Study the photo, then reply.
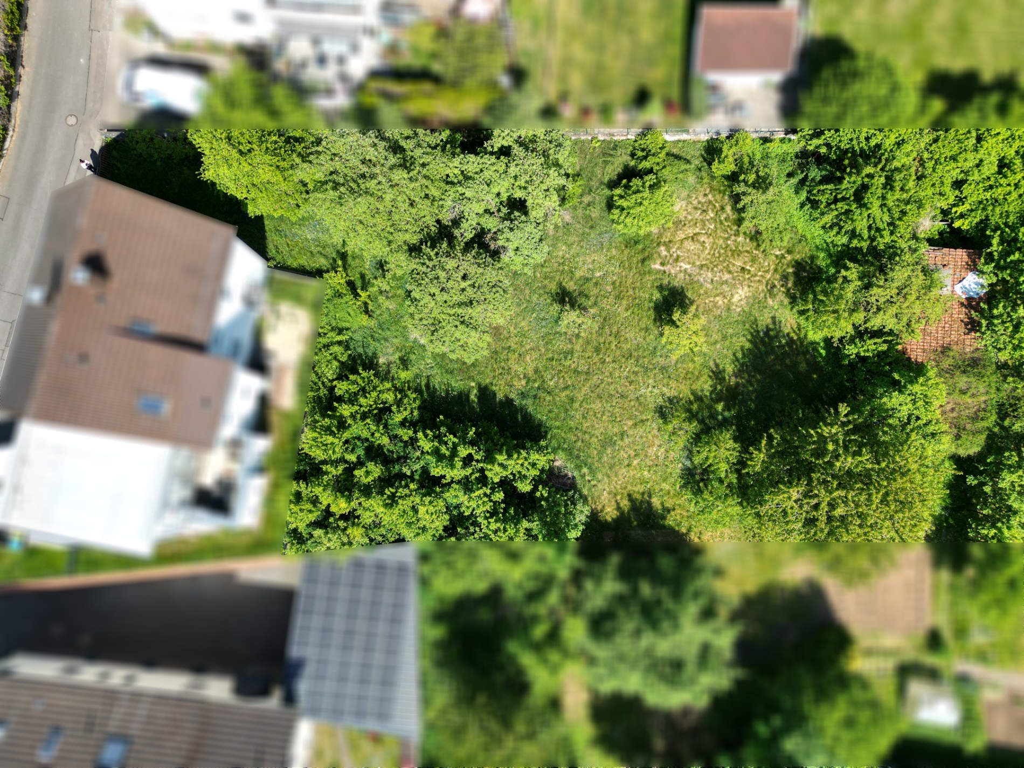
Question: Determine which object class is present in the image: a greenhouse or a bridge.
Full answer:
Looking from above, you can make out a greenhouse.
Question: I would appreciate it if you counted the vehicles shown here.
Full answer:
My tally gives 1 vehicle in this photo.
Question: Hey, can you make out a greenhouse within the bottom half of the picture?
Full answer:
Yes, within the bottom half of the picture there is a greenhouse.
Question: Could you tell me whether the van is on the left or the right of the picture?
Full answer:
The van sits on the left side.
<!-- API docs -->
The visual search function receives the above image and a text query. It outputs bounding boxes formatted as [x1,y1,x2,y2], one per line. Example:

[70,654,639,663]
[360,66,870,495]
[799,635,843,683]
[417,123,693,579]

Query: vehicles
[128,66,213,118]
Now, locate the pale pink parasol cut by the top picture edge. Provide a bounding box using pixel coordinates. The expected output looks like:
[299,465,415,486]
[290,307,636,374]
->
[462,0,495,27]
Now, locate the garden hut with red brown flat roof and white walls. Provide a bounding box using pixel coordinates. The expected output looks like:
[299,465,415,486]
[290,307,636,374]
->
[690,3,799,91]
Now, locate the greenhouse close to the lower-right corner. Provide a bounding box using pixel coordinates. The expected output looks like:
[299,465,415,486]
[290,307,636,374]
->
[900,668,964,722]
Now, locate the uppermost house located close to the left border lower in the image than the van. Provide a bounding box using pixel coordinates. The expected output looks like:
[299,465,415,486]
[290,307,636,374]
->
[18,175,265,354]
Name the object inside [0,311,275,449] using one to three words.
house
